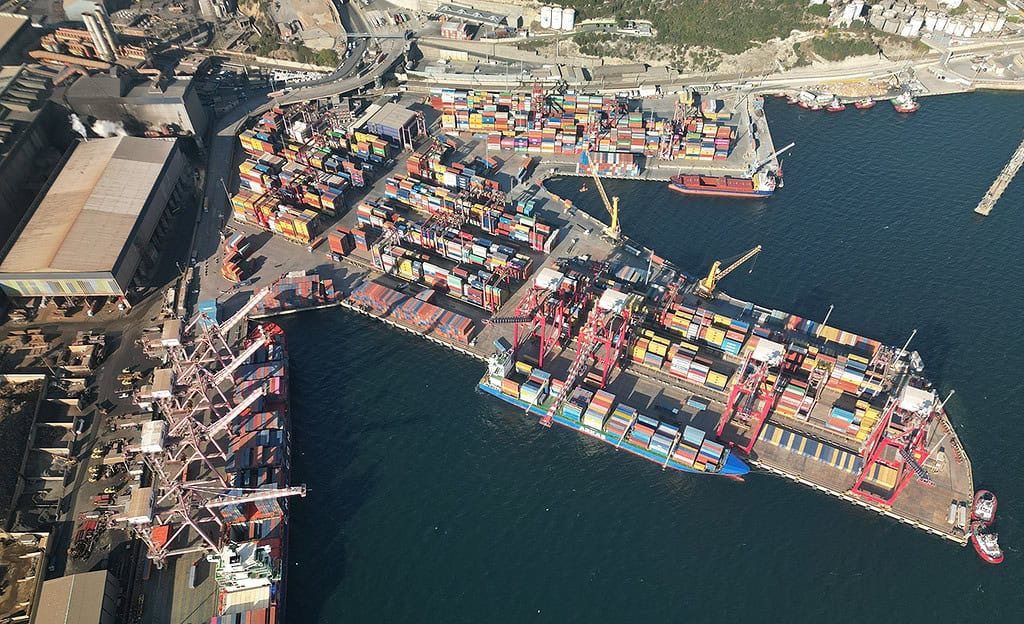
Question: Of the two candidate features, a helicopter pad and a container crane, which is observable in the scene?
container crane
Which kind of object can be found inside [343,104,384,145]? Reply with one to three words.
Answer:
shed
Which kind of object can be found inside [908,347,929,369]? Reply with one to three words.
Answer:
boat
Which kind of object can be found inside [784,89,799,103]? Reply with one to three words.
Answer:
boat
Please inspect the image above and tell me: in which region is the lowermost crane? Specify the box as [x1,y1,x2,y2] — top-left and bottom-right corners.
[115,478,307,571]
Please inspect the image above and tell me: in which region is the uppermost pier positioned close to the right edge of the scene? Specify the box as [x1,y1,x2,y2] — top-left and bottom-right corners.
[974,130,1024,217]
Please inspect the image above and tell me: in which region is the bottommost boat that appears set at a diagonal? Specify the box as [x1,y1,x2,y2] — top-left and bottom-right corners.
[966,516,1012,561]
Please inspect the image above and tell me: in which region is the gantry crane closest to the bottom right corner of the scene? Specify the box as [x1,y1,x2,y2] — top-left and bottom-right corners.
[853,380,945,505]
